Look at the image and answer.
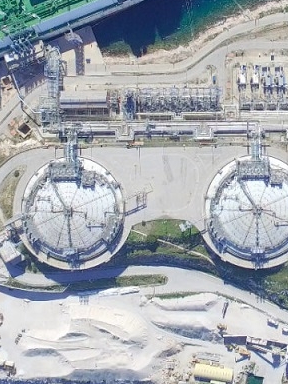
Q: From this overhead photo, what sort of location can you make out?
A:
industrial area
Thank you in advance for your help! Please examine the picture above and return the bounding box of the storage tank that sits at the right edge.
[202,137,288,268]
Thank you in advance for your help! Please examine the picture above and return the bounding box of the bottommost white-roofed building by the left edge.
[0,239,26,264]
